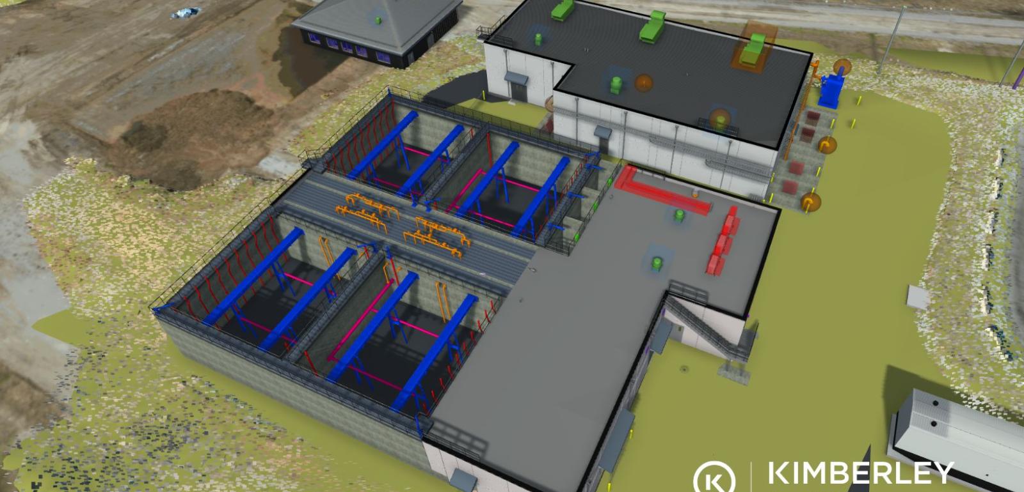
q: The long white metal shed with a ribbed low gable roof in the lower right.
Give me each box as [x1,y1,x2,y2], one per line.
[887,389,1024,492]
